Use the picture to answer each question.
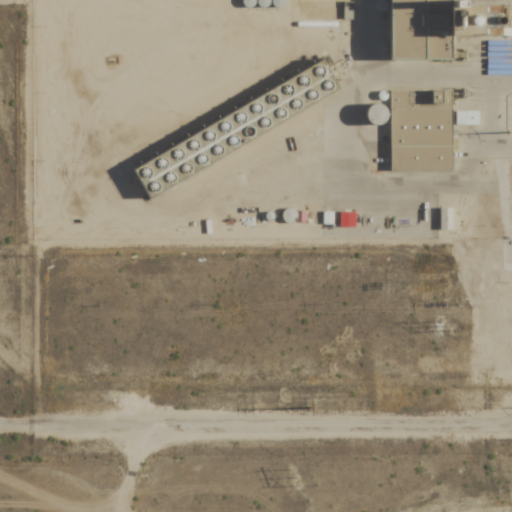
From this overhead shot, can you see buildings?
Yes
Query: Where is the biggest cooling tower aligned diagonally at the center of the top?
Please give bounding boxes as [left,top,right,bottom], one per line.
[132,57,342,200]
